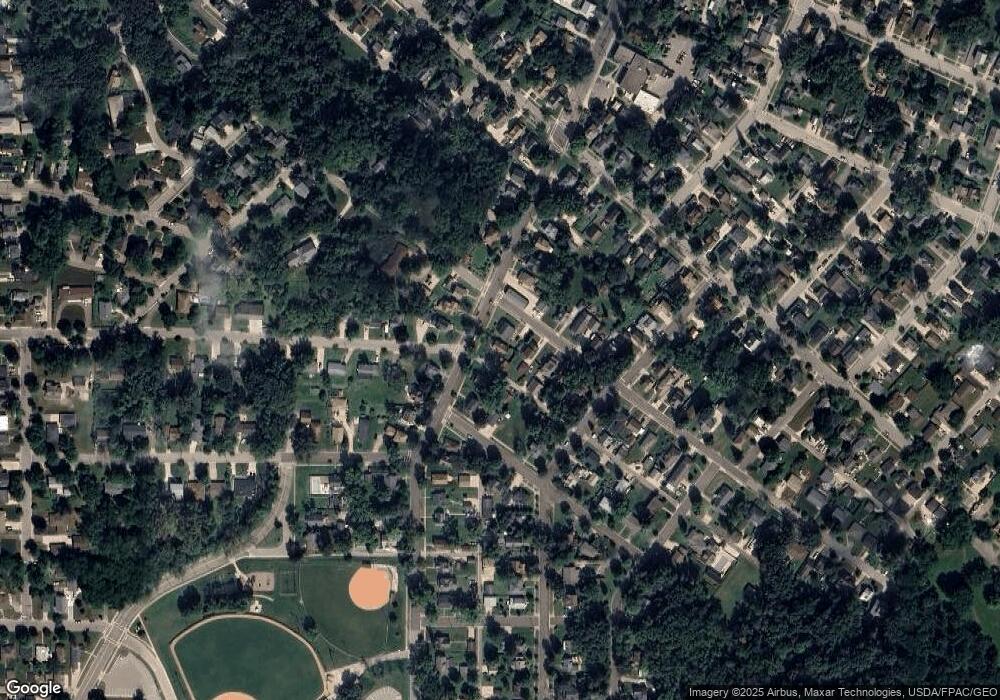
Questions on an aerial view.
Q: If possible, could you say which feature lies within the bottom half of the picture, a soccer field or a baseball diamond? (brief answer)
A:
baseball diamond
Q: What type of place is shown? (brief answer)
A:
residential area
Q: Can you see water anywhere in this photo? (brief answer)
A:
No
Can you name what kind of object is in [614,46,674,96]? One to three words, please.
building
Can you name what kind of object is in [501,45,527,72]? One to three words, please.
house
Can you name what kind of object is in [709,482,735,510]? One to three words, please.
house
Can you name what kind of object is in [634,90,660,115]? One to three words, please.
building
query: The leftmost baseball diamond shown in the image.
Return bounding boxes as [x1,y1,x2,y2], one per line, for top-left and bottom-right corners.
[171,613,329,700]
